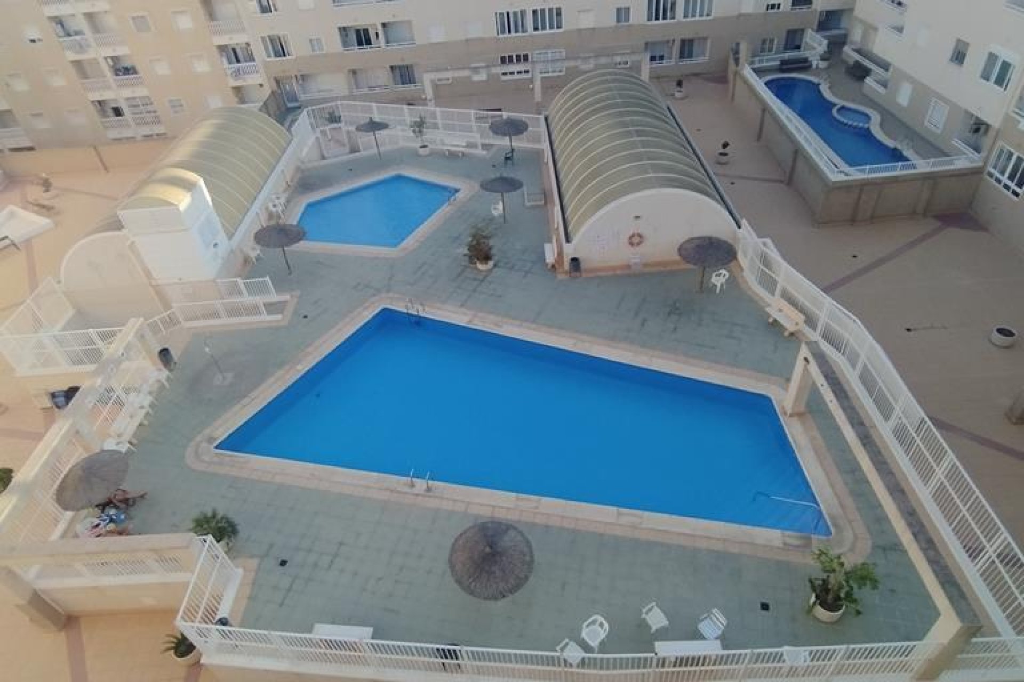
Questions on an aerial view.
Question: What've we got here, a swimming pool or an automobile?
swimming pool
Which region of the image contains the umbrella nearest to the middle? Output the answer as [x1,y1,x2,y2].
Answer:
[479,173,524,226]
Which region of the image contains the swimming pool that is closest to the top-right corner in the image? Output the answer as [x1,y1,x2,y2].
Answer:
[768,75,909,166]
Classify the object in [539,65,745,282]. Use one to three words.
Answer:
building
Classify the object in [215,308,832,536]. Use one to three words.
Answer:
swimming pool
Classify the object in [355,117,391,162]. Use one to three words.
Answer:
umbrella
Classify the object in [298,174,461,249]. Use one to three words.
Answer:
swimming pool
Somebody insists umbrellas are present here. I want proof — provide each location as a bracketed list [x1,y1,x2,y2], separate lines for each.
[448,525,535,611]
[54,454,137,529]
[355,117,391,162]
[479,173,524,226]
[257,223,305,277]
[677,235,737,298]
[490,118,528,165]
